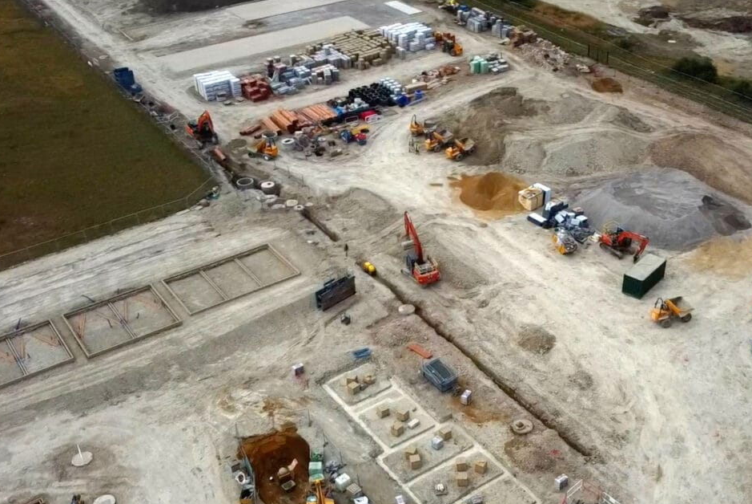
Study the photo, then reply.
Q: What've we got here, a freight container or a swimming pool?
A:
freight container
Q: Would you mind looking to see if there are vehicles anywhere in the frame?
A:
Yes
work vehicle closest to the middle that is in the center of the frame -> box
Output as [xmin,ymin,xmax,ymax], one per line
[402,210,438,286]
